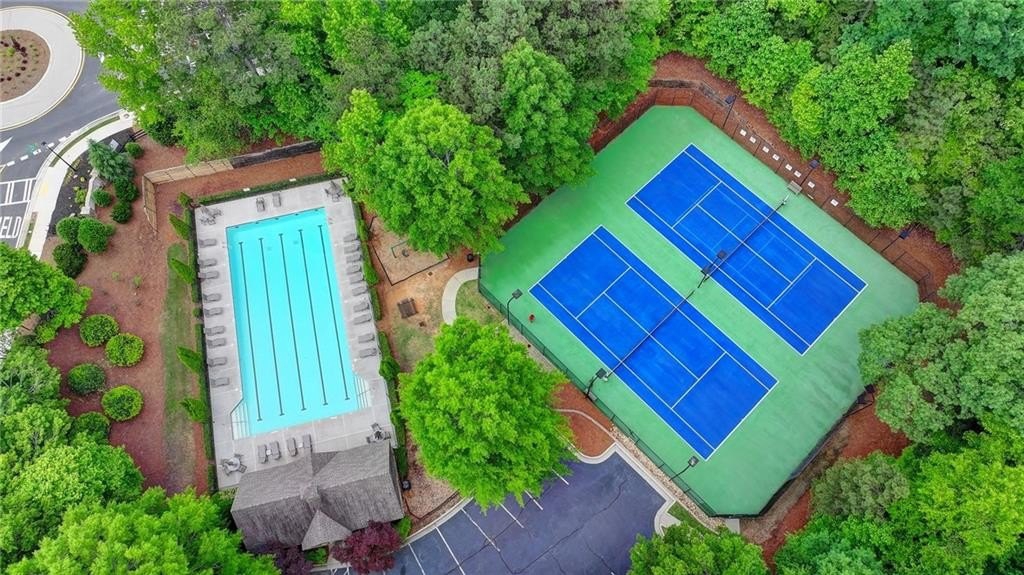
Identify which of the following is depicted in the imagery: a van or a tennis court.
tennis court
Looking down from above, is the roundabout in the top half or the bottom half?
top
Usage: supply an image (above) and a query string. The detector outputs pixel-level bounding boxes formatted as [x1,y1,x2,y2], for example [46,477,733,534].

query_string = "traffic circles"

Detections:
[0,6,84,130]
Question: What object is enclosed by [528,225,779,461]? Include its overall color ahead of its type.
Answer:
blue tennis court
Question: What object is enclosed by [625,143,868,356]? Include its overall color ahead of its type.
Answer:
blue tennis court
